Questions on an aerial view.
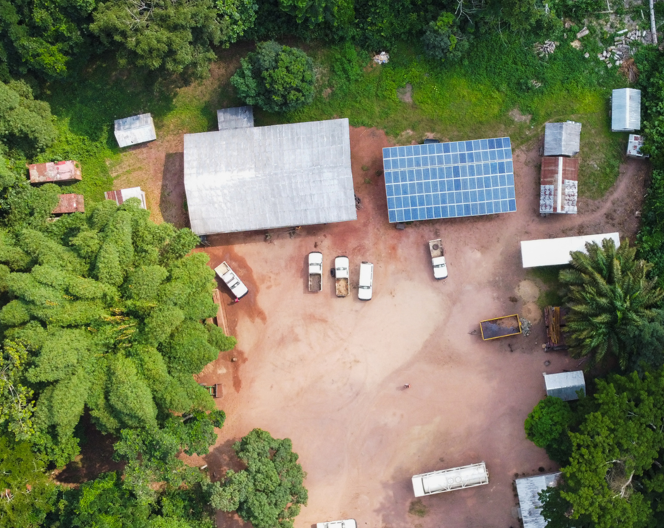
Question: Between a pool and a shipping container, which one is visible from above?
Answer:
shipping container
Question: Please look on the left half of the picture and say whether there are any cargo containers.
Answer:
No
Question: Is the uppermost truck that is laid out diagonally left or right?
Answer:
left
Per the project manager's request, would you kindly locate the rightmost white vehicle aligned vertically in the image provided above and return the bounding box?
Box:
[429,239,447,280]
